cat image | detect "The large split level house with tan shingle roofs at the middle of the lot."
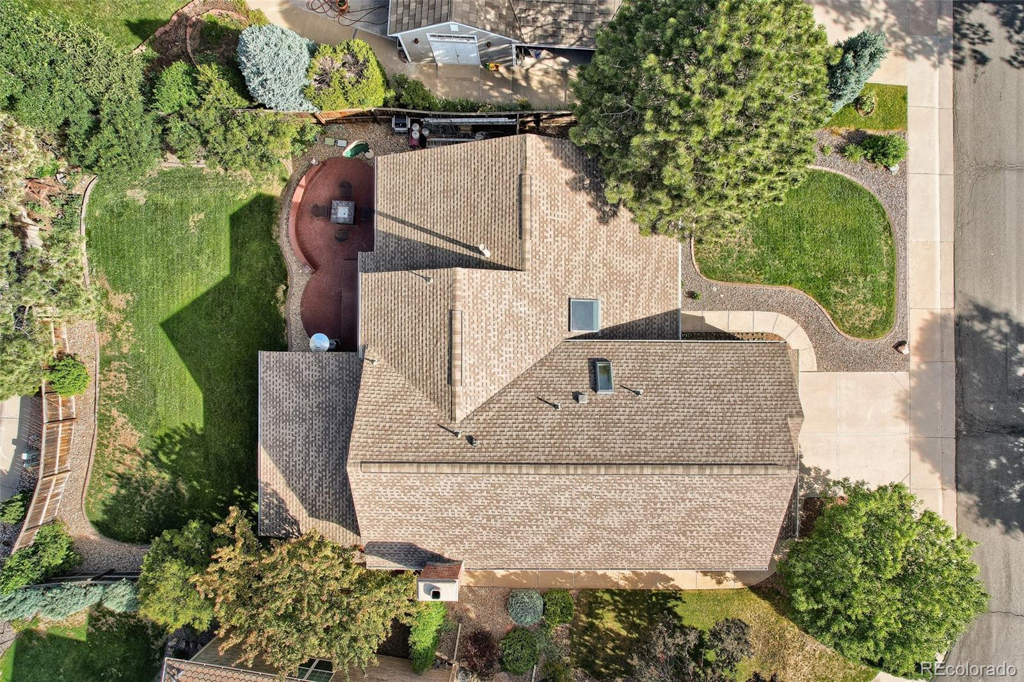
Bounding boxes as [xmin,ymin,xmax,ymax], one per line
[256,133,807,602]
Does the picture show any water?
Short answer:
No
